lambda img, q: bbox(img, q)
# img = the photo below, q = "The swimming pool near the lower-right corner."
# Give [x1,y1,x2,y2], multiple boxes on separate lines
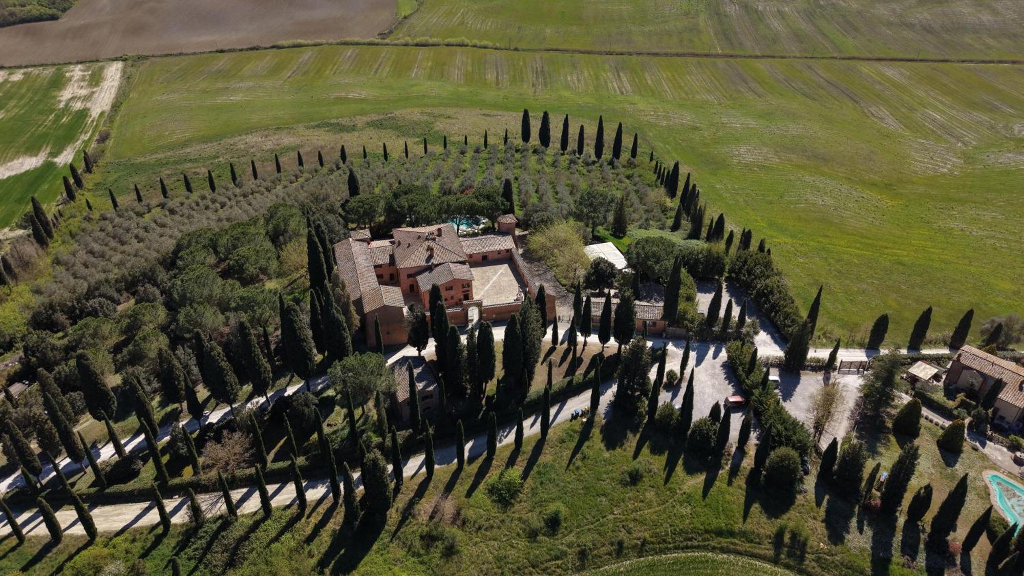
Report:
[985,471,1024,530]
